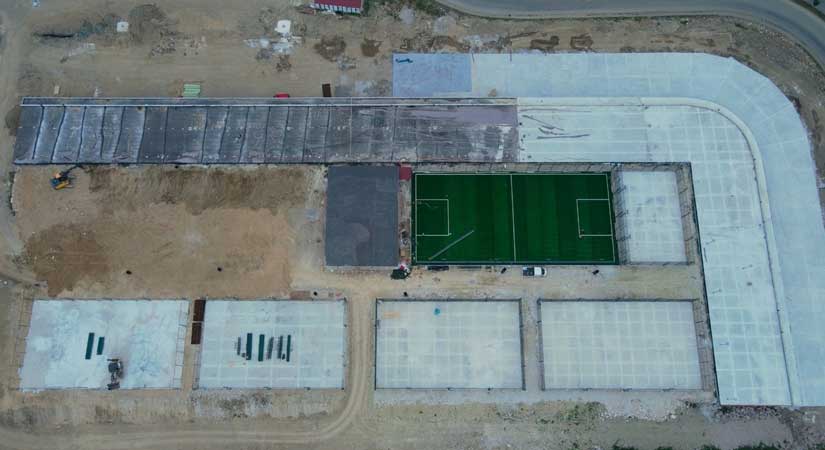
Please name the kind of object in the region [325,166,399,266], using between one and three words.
sports court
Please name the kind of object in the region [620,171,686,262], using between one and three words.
sports court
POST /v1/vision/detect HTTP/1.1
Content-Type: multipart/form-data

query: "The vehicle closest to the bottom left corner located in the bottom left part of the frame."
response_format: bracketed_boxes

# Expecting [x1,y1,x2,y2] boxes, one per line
[103,357,122,390]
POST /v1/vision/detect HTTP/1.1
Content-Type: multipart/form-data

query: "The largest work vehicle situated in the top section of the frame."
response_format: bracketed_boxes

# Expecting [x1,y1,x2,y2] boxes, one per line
[46,164,89,190]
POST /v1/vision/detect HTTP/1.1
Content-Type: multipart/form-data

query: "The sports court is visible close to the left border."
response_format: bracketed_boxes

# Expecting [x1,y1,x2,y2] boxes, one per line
[17,300,188,388]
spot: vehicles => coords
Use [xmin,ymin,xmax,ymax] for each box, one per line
[524,266,547,276]
[46,164,89,190]
[103,357,122,390]
[272,90,289,97]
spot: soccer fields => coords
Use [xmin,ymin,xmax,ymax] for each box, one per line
[410,171,618,265]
